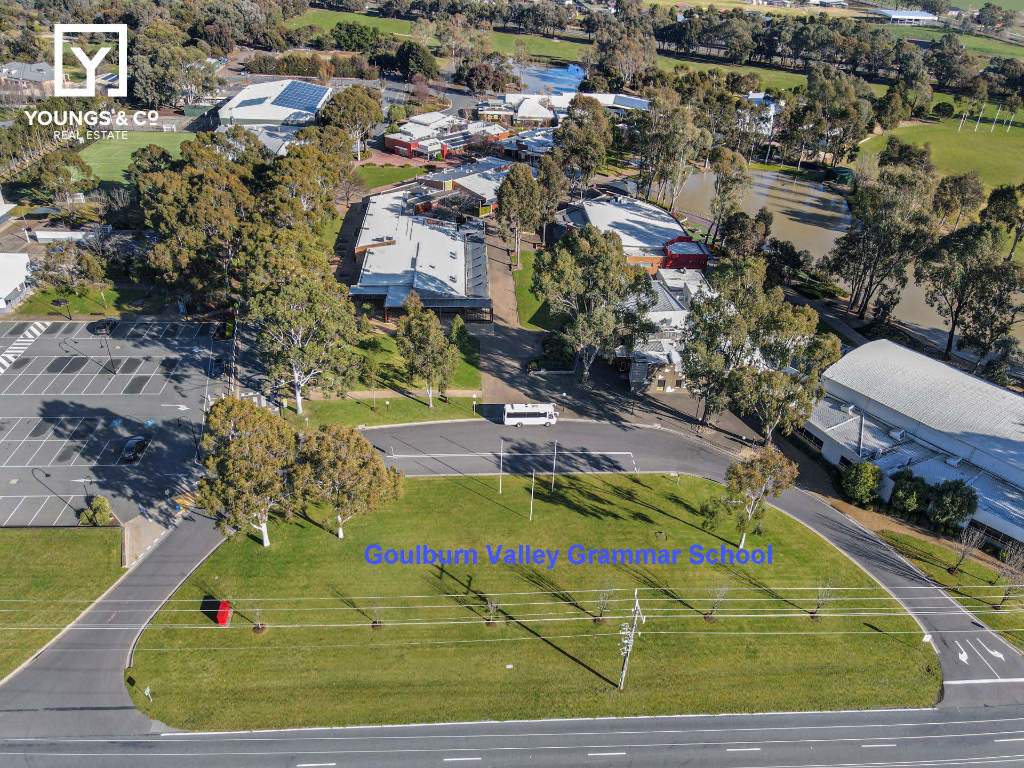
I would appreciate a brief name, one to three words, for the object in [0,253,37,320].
building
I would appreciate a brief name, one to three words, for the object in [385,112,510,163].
building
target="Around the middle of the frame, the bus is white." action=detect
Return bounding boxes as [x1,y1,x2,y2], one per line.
[505,399,559,425]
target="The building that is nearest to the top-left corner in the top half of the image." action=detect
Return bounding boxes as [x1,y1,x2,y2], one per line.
[0,62,63,91]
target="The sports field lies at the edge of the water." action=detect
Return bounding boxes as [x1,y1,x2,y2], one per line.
[859,115,1024,255]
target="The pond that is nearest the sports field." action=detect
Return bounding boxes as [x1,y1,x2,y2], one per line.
[678,169,1024,375]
